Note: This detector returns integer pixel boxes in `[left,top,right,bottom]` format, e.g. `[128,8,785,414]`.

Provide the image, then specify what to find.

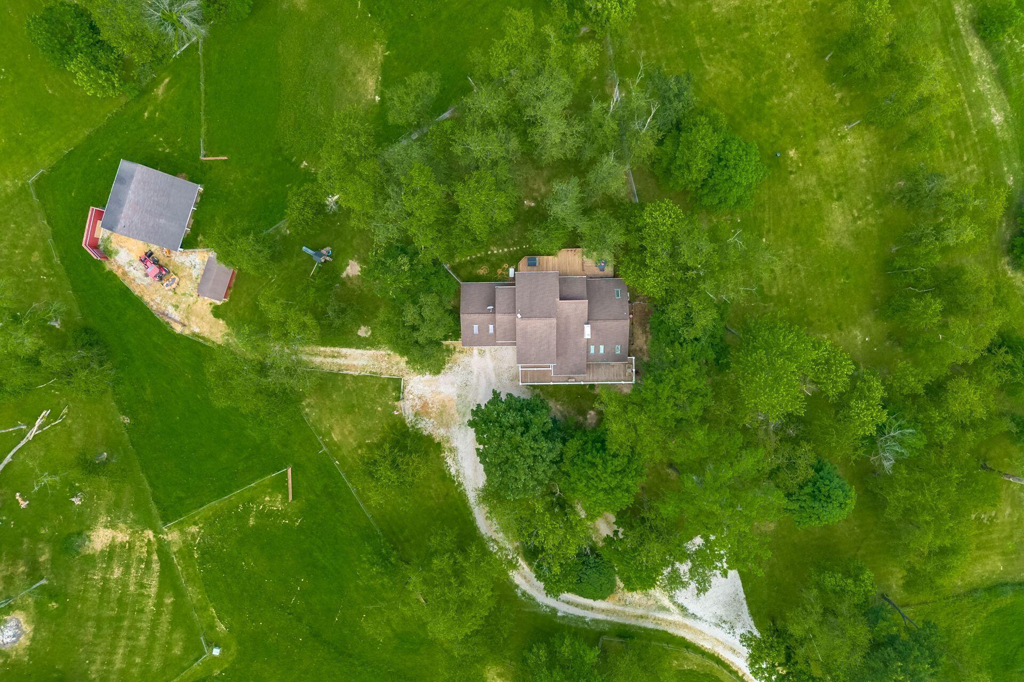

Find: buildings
[459,271,632,376]
[197,255,242,302]
[100,159,205,252]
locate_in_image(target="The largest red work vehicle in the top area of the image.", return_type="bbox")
[143,248,171,279]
